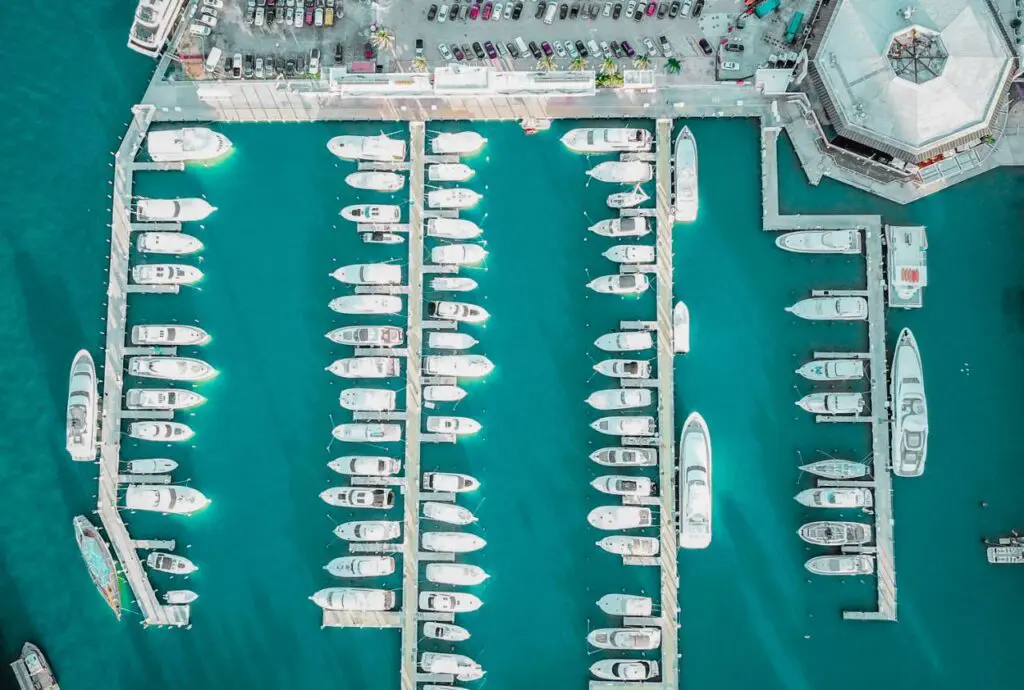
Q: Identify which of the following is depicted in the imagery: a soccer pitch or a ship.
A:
ship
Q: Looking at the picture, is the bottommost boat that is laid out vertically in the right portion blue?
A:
No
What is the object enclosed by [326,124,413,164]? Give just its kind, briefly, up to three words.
boat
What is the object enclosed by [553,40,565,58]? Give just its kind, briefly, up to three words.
vehicle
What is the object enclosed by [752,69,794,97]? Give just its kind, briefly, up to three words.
shed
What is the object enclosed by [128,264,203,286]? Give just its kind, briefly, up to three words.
boat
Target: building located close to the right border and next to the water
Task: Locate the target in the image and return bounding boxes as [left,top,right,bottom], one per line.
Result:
[803,0,1014,166]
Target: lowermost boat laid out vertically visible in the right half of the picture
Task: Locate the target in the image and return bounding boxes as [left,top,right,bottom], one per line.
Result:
[680,412,712,548]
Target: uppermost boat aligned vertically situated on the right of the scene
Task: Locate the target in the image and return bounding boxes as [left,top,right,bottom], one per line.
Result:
[674,124,698,223]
